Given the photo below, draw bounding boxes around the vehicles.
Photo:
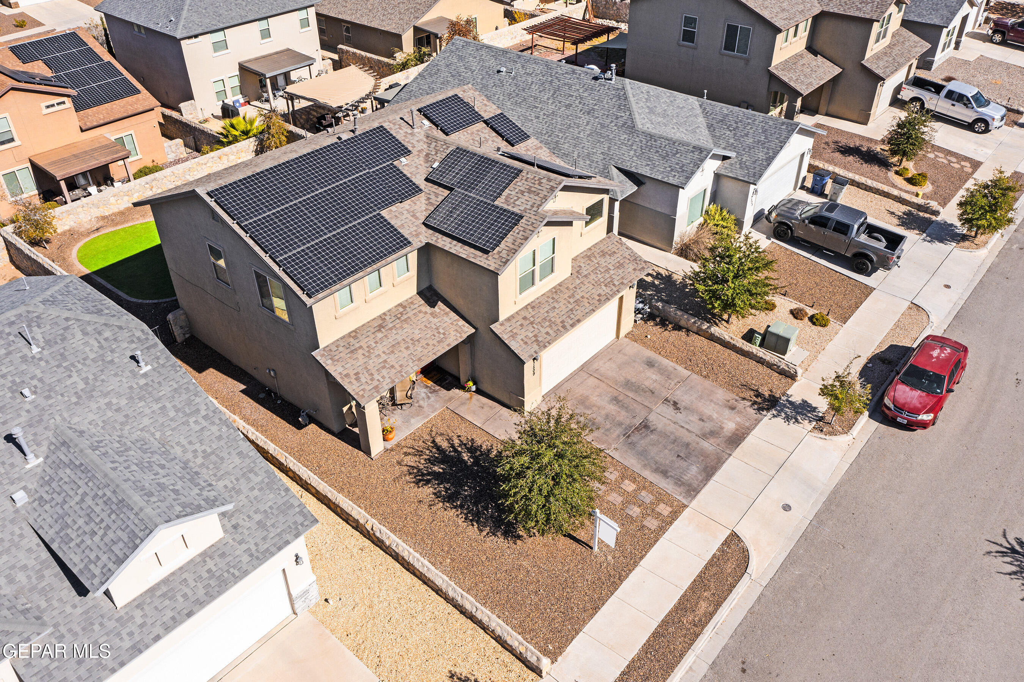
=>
[983,16,1024,47]
[900,80,1016,131]
[760,196,902,272]
[886,335,974,428]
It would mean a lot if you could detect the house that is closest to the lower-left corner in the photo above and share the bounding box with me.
[0,270,321,682]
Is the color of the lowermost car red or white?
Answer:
red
